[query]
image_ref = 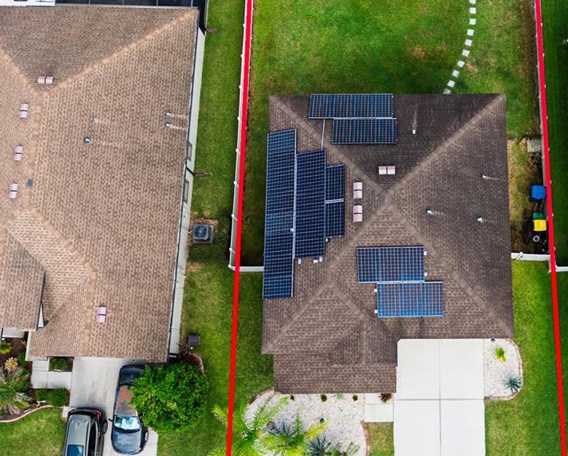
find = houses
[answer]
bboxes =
[0,6,219,361]
[261,93,513,393]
